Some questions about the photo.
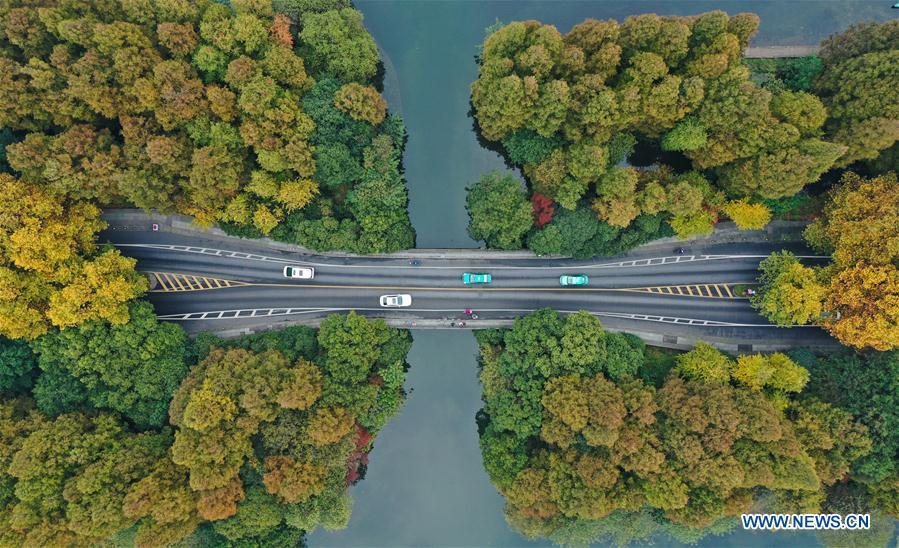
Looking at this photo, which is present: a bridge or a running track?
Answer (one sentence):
Of the two, only a bridge appears.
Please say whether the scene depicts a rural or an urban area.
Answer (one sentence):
The area shown here is rural.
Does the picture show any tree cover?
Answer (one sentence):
Yes, there is tree cover in the image.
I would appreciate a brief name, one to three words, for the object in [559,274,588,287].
vehicle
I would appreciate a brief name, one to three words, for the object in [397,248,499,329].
bridge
